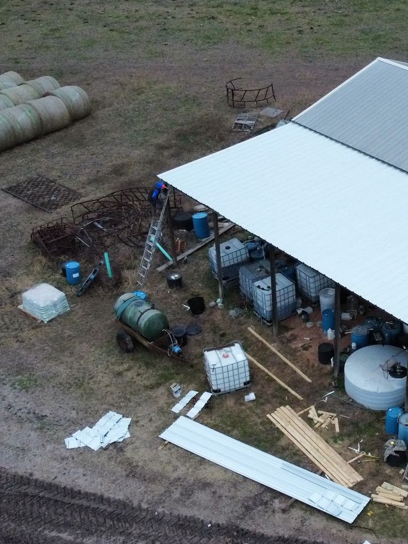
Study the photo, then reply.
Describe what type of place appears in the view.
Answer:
industrial area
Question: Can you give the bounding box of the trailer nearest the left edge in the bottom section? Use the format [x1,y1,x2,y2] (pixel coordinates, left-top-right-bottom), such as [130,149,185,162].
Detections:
[108,318,194,364]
